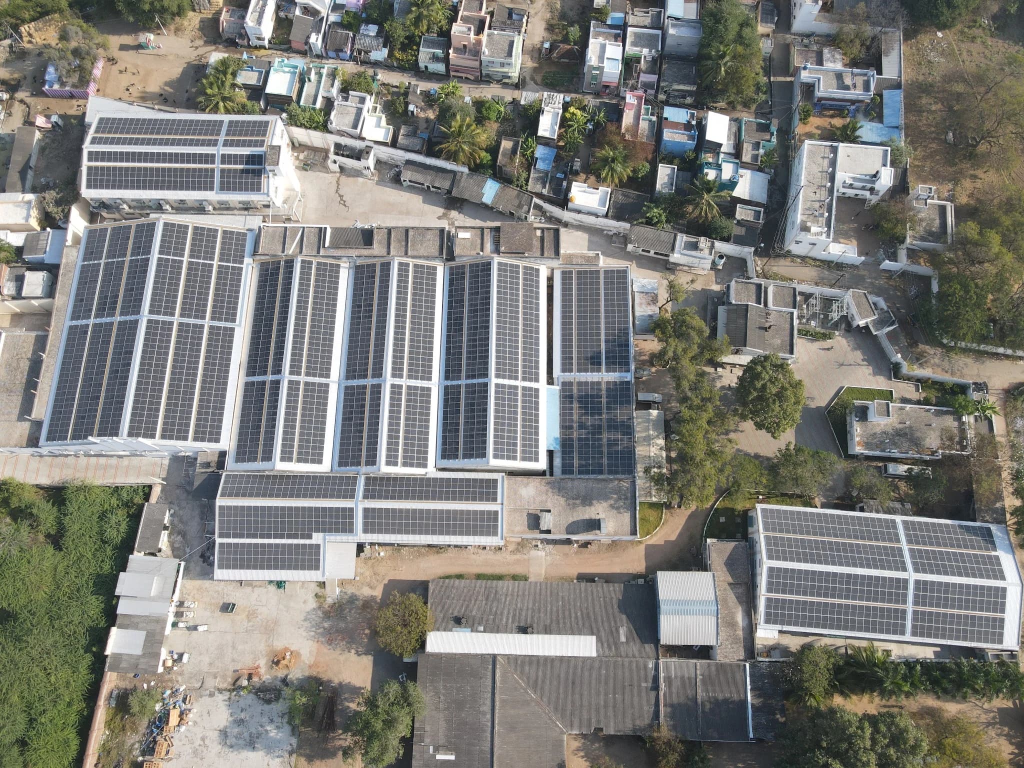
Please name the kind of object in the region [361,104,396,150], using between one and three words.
house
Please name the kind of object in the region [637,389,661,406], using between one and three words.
vehicle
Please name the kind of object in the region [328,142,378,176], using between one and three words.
building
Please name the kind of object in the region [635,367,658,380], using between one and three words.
vehicle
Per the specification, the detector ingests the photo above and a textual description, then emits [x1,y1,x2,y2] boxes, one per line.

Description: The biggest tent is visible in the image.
[42,59,105,100]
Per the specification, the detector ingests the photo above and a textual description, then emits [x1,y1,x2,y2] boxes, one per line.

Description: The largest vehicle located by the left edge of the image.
[48,115,67,131]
